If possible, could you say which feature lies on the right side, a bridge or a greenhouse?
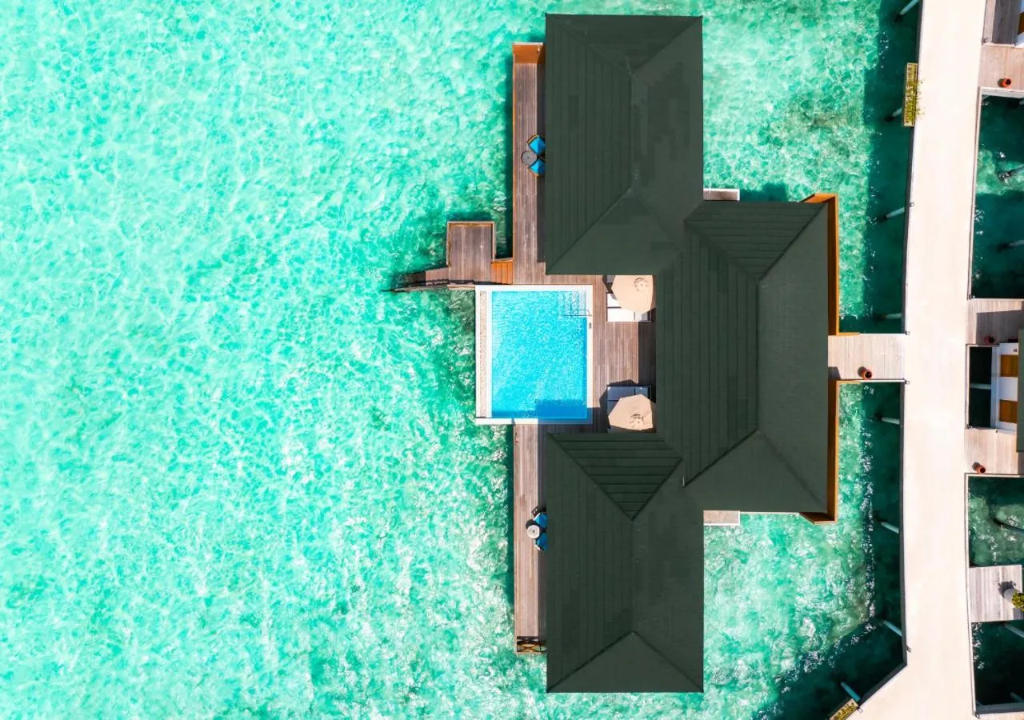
bridge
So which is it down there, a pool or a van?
pool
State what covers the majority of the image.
water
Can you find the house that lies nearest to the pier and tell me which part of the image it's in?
right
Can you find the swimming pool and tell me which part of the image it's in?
center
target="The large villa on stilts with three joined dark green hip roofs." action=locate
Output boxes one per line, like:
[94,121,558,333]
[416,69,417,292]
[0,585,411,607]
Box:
[513,13,830,694]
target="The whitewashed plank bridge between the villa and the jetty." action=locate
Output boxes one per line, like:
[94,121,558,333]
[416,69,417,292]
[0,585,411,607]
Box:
[828,333,907,383]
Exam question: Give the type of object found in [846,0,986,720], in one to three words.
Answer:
pier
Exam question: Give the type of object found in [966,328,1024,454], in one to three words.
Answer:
house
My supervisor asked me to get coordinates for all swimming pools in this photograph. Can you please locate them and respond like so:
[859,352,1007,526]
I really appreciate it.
[476,285,593,424]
